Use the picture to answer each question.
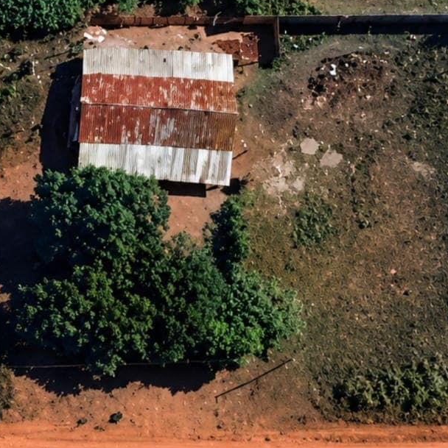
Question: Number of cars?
0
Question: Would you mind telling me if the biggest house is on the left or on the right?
left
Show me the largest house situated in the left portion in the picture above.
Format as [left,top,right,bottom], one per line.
[68,47,238,188]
